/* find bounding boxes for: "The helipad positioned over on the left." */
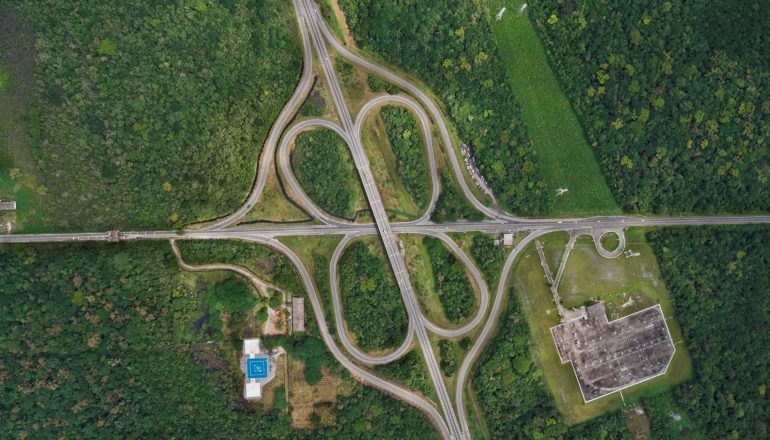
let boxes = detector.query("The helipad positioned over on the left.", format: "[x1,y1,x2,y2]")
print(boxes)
[245,358,267,379]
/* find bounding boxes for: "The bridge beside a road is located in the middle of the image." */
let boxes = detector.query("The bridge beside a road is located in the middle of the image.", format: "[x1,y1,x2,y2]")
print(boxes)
[353,156,414,296]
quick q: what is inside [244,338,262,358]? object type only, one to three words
building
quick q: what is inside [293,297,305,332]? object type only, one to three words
building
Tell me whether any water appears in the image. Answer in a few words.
No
